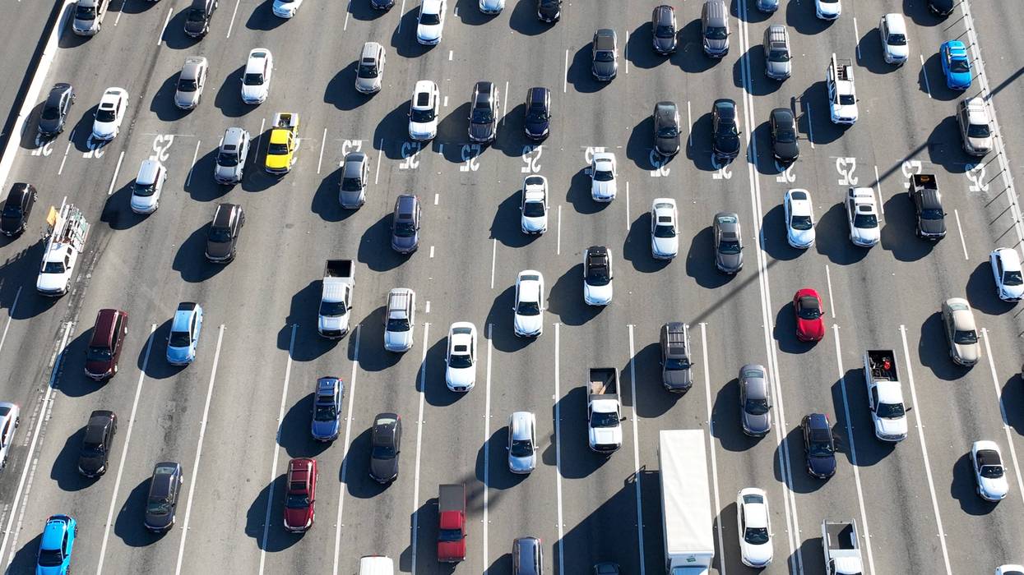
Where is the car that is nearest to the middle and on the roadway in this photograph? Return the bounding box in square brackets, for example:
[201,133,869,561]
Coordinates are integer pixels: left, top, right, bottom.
[513,272,545,338]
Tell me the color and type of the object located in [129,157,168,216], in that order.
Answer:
white vehicle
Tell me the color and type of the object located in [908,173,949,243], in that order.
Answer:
black truck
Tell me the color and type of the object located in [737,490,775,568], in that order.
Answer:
white car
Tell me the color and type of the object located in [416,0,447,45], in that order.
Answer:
white car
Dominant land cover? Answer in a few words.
paved ground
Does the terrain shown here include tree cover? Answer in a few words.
No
